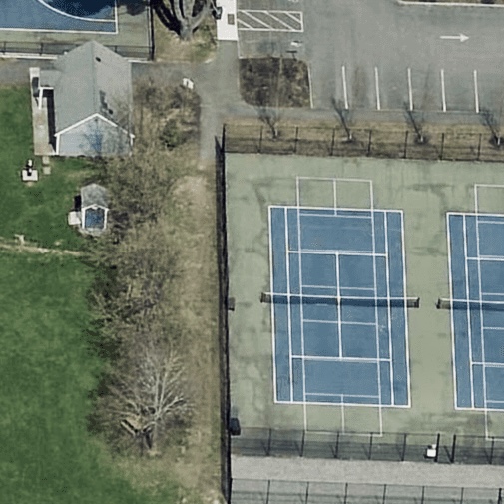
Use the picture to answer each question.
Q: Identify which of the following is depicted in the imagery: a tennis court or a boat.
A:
tennis court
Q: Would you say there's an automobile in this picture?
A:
No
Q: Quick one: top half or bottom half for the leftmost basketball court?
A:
top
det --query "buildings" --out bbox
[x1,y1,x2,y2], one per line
[40,42,136,158]
[82,184,110,234]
